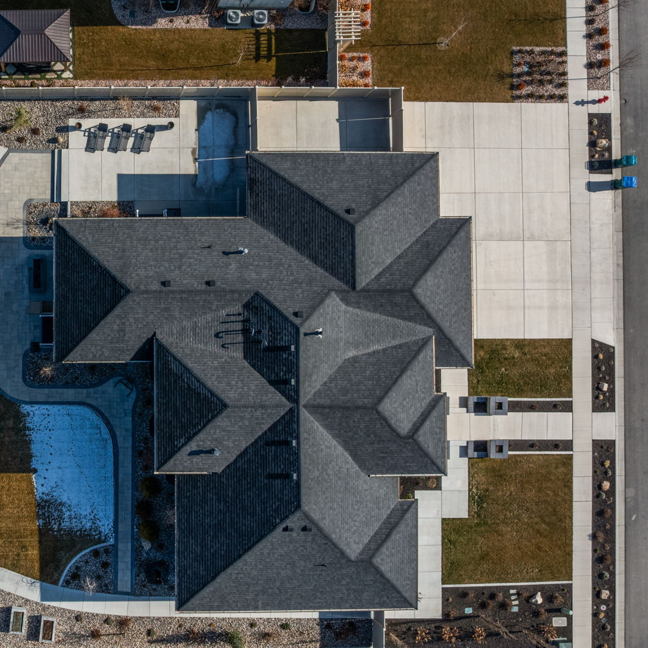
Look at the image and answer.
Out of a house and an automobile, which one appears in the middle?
house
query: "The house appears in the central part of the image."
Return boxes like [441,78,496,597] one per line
[50,149,475,614]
